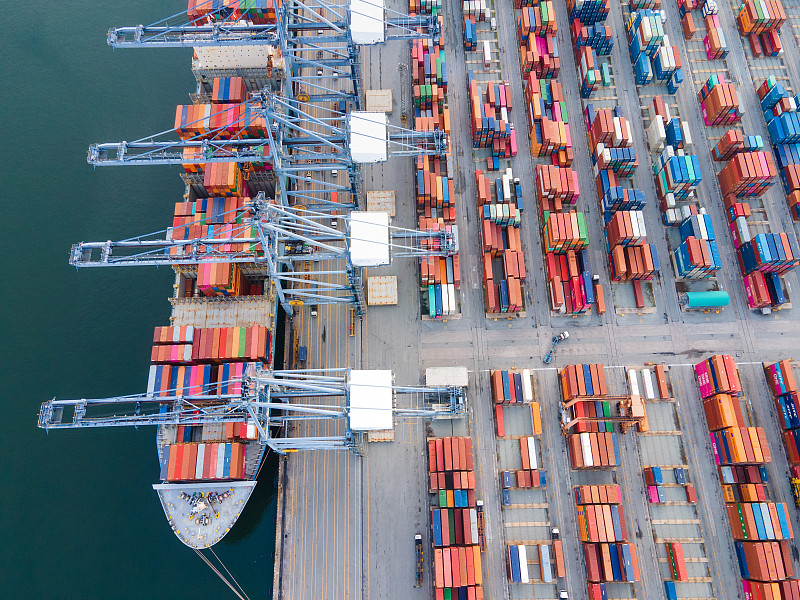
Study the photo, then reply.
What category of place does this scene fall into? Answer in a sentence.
This image shows a port.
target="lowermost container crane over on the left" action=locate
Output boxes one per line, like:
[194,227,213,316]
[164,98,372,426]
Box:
[38,366,472,466]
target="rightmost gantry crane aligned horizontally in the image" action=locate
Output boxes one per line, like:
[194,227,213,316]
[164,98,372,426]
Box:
[559,395,653,434]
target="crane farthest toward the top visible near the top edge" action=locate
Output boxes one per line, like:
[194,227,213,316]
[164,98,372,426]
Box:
[108,0,445,135]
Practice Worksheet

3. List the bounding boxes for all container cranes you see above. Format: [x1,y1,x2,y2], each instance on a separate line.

[108,0,445,135]
[87,88,453,234]
[38,366,472,466]
[68,198,461,328]
[559,395,653,434]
